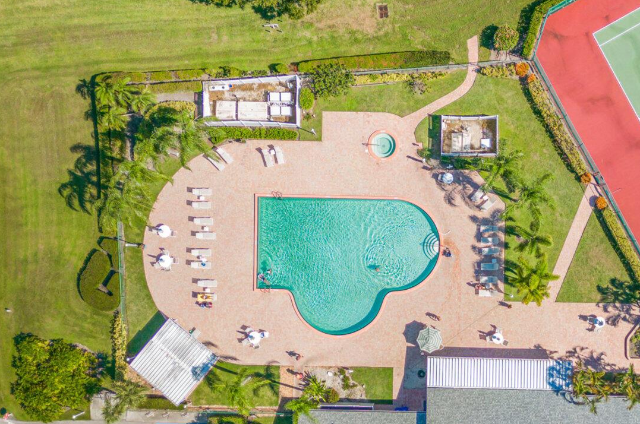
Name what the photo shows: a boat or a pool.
pool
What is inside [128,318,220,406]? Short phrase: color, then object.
white gazebo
